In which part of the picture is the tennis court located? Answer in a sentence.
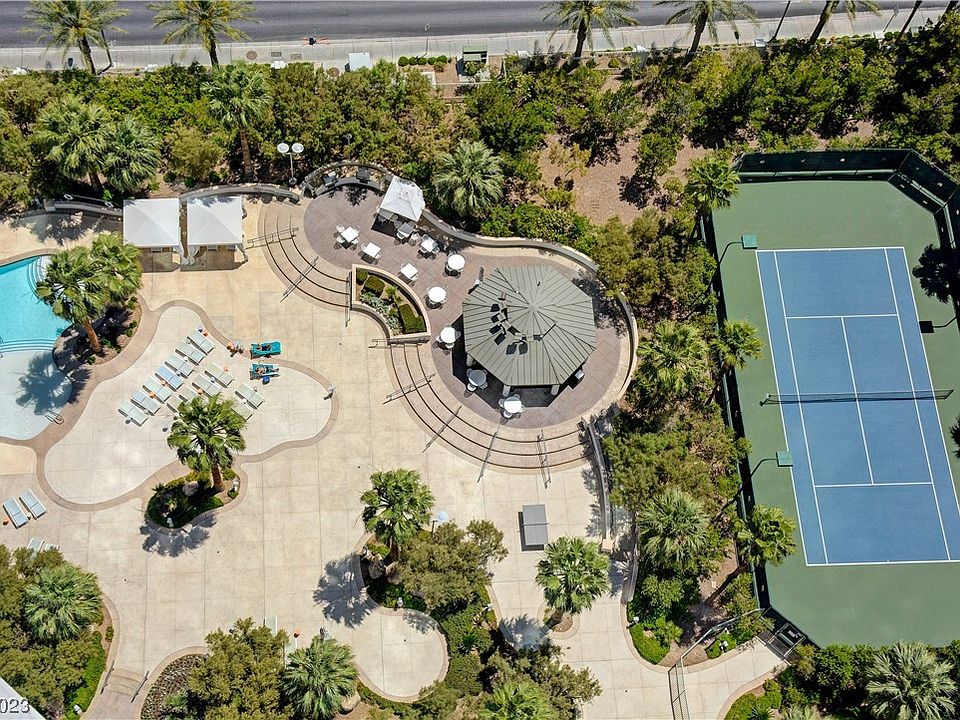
The tennis court appears toward the right of the photo.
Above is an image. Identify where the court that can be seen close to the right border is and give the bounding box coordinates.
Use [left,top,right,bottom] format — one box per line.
[695,171,960,673]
